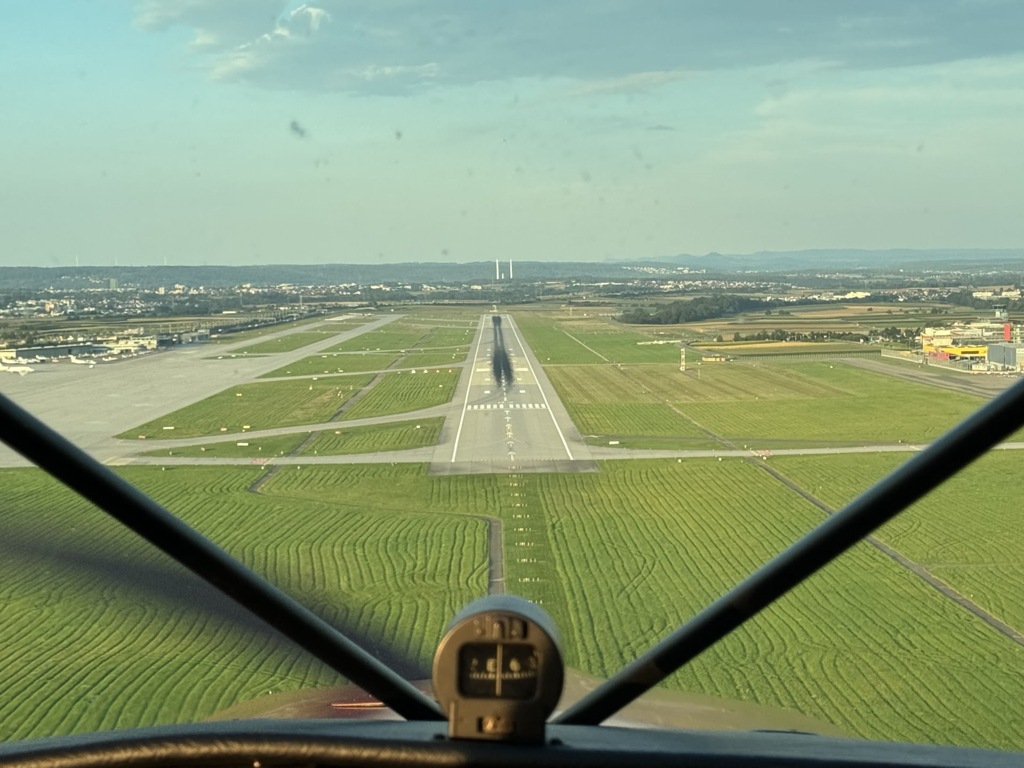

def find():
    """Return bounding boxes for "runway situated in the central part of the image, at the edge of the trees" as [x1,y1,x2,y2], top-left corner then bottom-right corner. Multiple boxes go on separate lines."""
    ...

[385,317,617,473]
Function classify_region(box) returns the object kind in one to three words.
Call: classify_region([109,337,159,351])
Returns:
building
